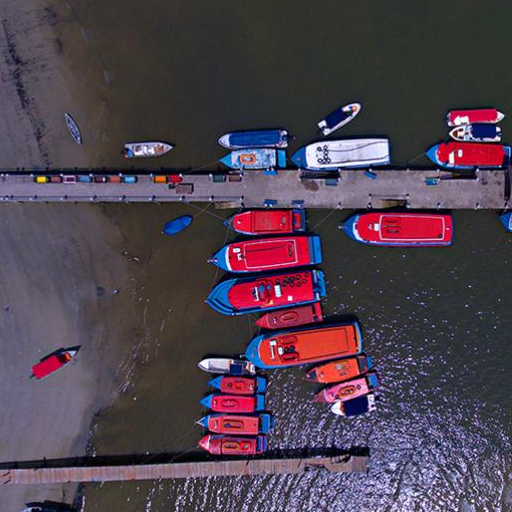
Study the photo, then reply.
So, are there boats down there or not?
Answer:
Yes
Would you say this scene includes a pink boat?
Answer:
Yes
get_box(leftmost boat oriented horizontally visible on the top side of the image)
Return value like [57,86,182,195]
[122,140,174,157]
